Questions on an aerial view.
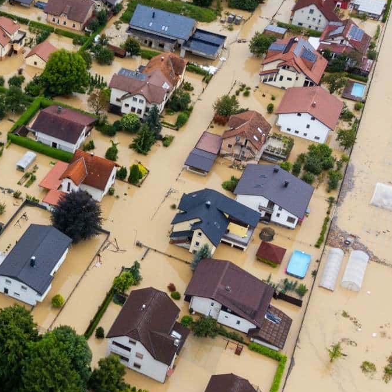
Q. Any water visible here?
Yes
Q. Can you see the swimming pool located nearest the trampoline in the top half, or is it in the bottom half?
bottom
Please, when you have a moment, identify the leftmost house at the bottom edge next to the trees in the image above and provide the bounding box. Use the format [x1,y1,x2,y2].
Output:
[103,288,207,383]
